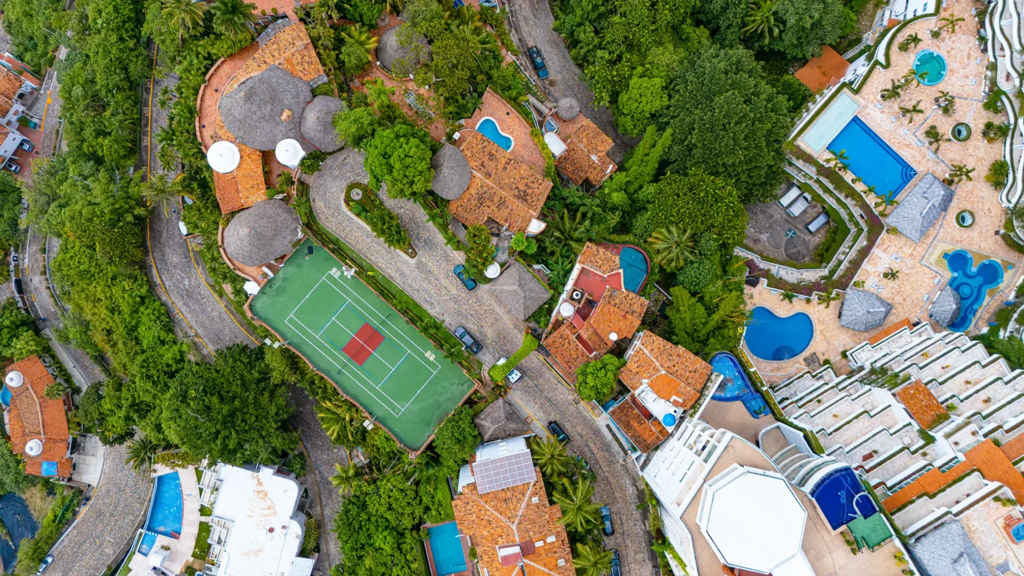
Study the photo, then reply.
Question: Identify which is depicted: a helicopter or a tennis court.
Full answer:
There is a tennis court in the scene.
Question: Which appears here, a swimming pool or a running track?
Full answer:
This aerial view contains a swimming pool.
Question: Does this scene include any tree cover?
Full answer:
Yes, tree cover can be seen from above here.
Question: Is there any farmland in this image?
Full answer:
No, no farmland is visible.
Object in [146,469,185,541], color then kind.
blue swimming pool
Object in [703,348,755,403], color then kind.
blue swimming pool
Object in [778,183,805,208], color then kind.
white truck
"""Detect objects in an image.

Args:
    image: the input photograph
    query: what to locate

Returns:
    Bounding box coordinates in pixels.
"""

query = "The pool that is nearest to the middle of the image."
[612,244,653,298]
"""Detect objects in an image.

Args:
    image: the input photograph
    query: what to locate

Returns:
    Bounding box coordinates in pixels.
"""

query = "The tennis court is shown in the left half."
[245,236,479,457]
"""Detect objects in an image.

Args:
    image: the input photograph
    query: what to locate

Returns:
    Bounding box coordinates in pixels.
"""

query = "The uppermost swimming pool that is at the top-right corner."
[912,49,949,86]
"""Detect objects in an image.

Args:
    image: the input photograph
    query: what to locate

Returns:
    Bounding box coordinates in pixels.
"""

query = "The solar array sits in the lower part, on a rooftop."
[472,449,536,494]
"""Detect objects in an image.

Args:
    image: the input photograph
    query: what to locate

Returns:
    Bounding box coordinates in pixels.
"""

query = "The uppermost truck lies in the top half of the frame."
[526,43,549,79]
